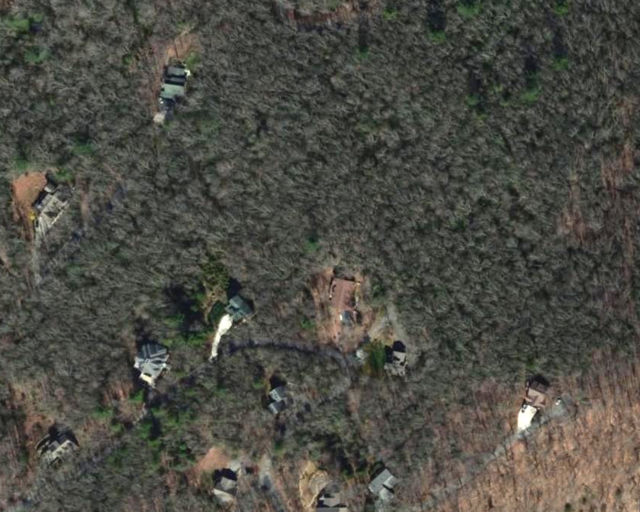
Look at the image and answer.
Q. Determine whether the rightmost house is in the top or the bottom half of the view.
bottom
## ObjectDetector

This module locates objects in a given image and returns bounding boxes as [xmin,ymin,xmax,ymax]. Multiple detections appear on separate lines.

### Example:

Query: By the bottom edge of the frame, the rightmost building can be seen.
[366,470,398,506]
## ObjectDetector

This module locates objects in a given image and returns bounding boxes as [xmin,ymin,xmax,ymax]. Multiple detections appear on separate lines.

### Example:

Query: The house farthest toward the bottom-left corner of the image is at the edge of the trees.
[36,430,79,459]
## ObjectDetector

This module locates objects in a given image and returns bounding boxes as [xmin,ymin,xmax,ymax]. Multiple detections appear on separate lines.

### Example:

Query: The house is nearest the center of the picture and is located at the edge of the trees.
[331,277,361,310]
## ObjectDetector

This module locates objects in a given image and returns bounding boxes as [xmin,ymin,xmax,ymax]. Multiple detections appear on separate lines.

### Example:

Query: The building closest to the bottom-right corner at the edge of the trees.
[524,380,549,408]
